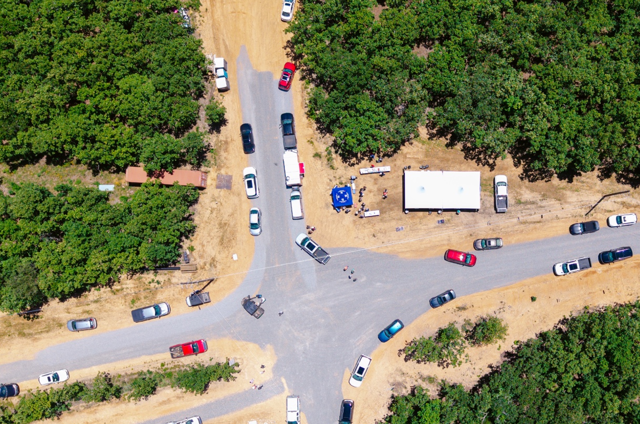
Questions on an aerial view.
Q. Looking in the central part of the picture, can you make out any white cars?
Yes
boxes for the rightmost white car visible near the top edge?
[281,0,296,22]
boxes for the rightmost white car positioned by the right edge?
[606,211,638,227]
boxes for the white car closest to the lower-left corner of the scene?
[37,369,71,386]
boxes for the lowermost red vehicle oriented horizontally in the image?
[168,340,209,360]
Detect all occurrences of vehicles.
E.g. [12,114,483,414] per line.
[130,302,171,323]
[278,61,296,92]
[474,237,503,251]
[284,394,300,424]
[0,383,20,399]
[494,175,510,216]
[247,207,262,236]
[281,0,296,22]
[241,296,264,318]
[66,317,98,332]
[338,398,354,424]
[606,211,638,227]
[296,233,333,267]
[37,369,71,386]
[349,354,371,388]
[187,292,212,310]
[430,288,456,307]
[552,256,593,276]
[240,123,256,154]
[378,319,404,341]
[569,220,600,235]
[290,190,305,220]
[279,112,297,150]
[244,167,260,198]
[170,416,203,424]
[168,340,209,360]
[444,248,478,267]
[597,246,634,263]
